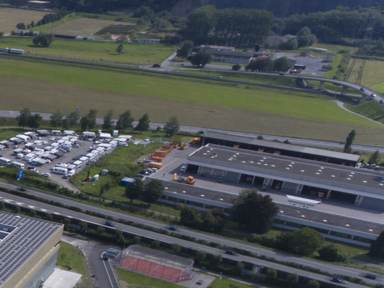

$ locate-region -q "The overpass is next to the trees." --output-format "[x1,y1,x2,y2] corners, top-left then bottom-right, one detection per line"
[171,69,384,110]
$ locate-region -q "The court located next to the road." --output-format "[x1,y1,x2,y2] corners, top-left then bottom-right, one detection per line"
[117,239,197,283]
